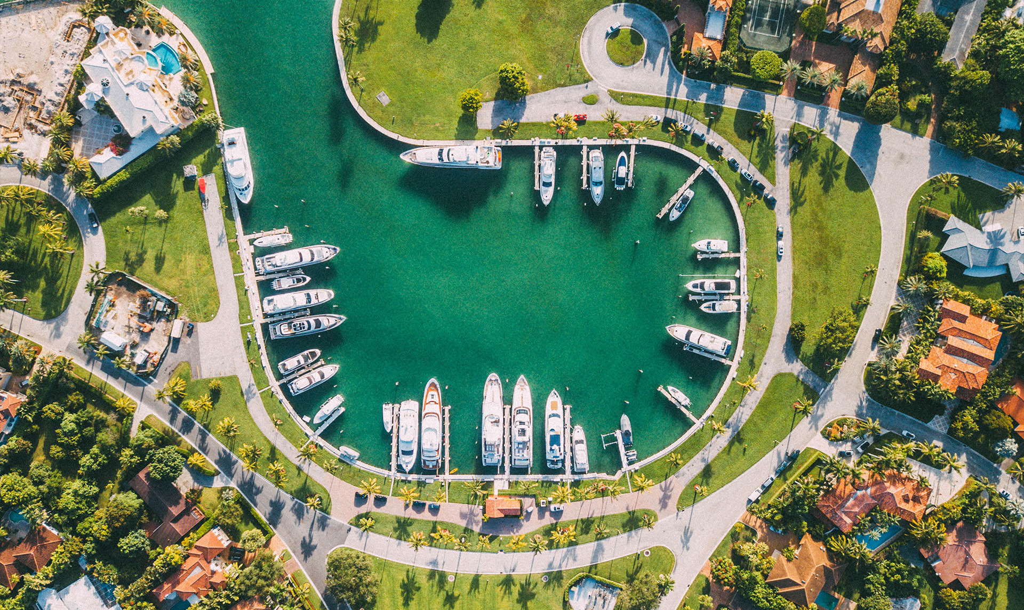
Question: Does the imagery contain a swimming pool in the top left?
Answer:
Yes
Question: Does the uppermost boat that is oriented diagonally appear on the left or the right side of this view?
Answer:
right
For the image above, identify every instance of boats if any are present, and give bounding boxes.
[692,239,729,253]
[254,241,339,274]
[587,150,610,205]
[668,386,691,407]
[421,379,445,476]
[663,188,695,220]
[276,349,321,375]
[477,373,504,465]
[271,308,345,339]
[539,147,556,205]
[340,445,359,460]
[314,388,343,423]
[508,376,532,467]
[220,126,256,213]
[700,300,744,314]
[685,273,744,294]
[271,275,311,291]
[621,415,634,448]
[545,388,566,469]
[258,290,335,315]
[286,361,339,395]
[401,143,502,171]
[399,399,420,471]
[384,401,393,432]
[572,424,589,472]
[666,318,731,356]
[613,152,629,191]
[254,233,292,247]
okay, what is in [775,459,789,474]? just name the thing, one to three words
vehicle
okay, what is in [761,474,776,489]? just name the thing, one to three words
vehicle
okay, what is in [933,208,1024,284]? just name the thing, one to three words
house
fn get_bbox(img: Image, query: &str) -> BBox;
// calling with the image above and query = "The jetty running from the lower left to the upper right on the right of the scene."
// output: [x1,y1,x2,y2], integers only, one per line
[655,166,706,219]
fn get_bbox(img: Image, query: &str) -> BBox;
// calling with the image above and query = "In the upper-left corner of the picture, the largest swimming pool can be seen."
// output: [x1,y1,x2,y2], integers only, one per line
[152,41,182,75]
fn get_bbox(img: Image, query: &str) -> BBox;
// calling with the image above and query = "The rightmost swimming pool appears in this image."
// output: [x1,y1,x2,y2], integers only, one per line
[993,335,1010,367]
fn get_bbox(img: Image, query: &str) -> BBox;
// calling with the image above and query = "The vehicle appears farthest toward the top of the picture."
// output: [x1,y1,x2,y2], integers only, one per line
[606,23,622,35]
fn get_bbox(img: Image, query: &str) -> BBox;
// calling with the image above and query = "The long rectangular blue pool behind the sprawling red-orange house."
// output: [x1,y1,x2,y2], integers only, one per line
[858,523,902,550]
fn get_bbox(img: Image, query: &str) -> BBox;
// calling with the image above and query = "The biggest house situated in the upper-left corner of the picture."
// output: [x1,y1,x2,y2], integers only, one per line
[78,13,181,139]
